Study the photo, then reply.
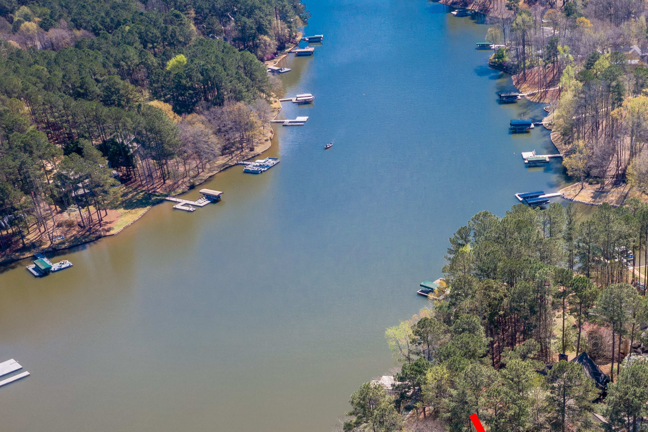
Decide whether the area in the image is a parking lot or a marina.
marina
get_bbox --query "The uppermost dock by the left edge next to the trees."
[25,253,73,278]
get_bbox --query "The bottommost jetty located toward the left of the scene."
[0,360,30,386]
